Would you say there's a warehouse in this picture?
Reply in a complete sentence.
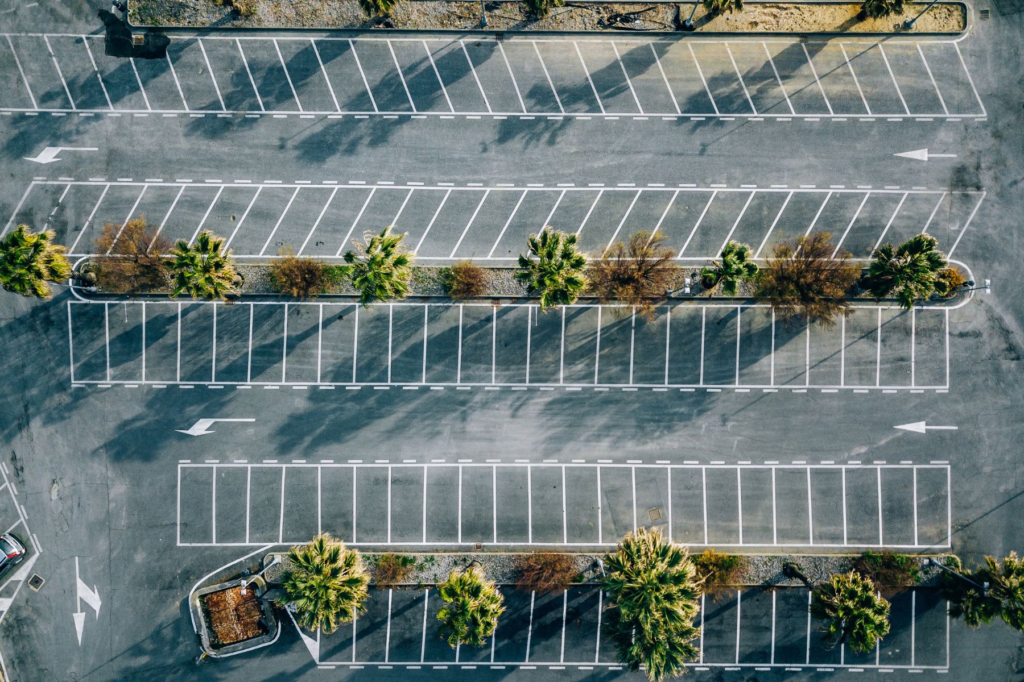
No, I find no warehouse anywhere in the image.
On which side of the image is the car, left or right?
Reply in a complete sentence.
It is on the left.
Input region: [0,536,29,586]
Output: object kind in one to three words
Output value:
car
